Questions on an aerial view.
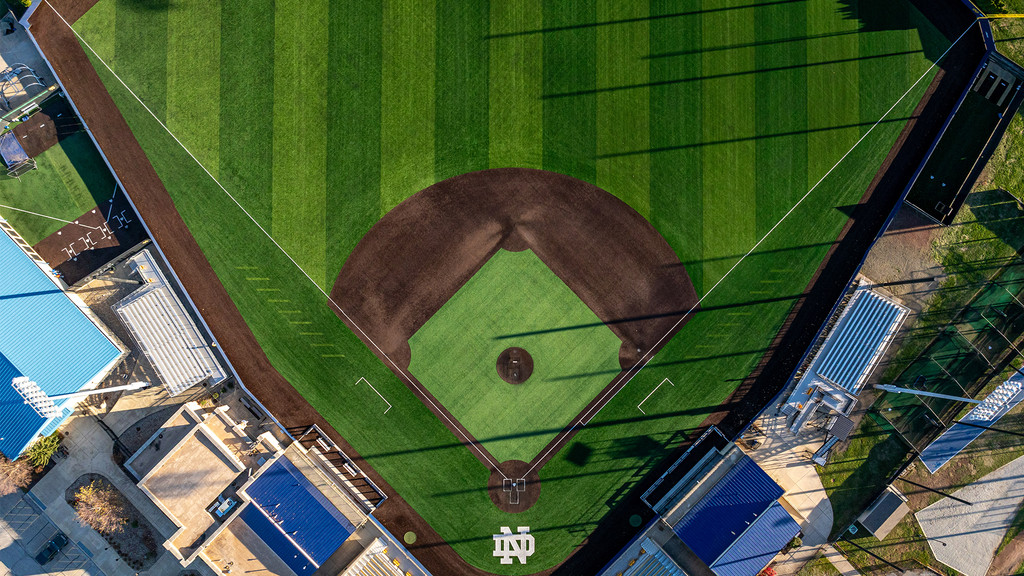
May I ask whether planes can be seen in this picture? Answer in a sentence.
No, there isn't any plane down there.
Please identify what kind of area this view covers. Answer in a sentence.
This image shows a sports ground.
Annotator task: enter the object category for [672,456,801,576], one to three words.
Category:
building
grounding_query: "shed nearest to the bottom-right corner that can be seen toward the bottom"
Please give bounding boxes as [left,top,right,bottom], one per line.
[857,486,909,541]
